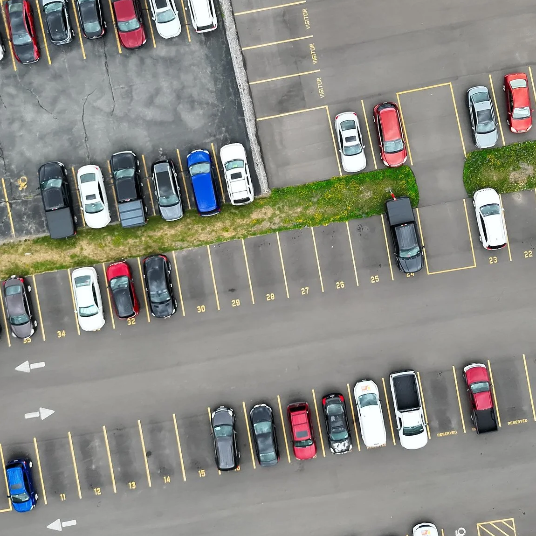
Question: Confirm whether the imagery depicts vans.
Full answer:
Yes, the image includes a van.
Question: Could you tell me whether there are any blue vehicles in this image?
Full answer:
Yes, a blue vehicle can be made out from above.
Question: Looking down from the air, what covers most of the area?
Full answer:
The largest share of the image is taken up by paved ground.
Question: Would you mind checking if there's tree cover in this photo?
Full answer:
No, the scene doesn't show any tree cover.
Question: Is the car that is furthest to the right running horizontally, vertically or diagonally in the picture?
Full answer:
In this picture, the car that is furthest to the right is oriented vertically.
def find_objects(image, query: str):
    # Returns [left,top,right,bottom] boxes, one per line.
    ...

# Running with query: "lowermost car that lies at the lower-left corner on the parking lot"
[3,456,35,512]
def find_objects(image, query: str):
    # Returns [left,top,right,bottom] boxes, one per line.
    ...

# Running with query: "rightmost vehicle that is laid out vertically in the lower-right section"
[463,362,502,438]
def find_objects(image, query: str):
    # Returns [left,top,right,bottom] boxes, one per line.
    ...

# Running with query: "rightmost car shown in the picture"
[502,72,535,134]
